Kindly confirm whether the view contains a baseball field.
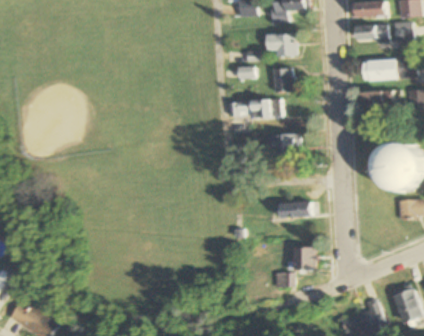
Yes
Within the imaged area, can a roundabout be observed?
No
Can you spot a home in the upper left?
No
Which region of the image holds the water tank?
right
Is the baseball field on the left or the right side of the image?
left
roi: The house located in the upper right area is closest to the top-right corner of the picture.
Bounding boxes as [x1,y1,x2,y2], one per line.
[400,0,423,18]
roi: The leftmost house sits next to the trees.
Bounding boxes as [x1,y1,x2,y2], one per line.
[10,305,58,336]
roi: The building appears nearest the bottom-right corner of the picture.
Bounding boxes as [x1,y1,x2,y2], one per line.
[393,285,424,328]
